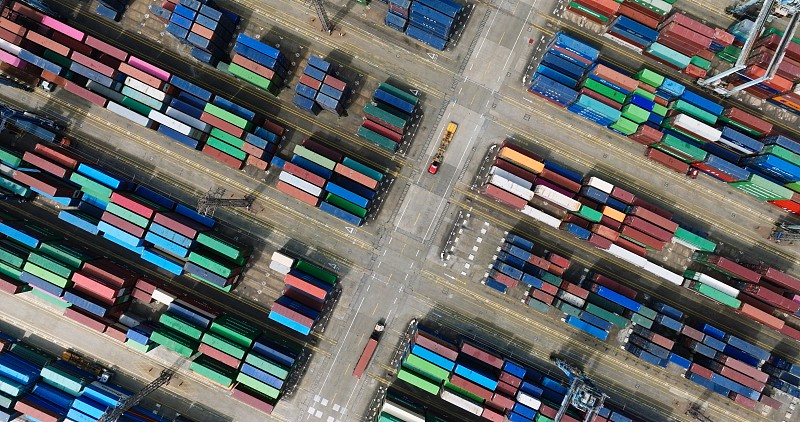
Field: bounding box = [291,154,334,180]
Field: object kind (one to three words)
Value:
shipping container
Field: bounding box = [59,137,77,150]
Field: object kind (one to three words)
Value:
vehicle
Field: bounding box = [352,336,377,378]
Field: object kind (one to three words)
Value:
shipping container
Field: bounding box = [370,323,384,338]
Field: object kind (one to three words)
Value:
vehicle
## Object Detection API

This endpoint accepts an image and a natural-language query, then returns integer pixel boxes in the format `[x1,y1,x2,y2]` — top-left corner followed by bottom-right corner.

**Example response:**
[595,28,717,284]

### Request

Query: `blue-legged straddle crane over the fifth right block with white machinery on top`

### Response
[547,356,609,422]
